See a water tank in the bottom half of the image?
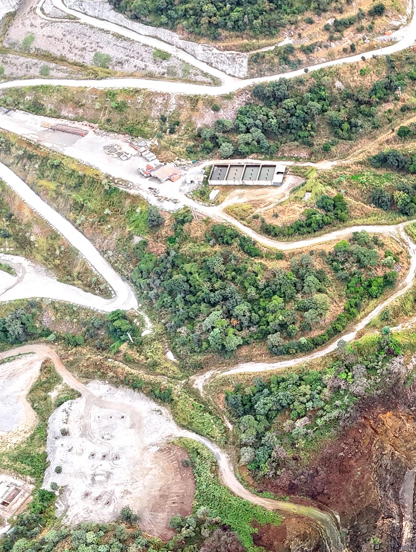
No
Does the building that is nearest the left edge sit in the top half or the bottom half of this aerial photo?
top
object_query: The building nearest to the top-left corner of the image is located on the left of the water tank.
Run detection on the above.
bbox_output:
[151,163,180,186]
